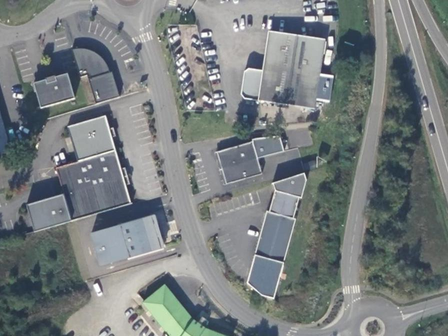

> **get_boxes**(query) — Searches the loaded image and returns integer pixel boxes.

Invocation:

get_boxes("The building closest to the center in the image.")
[216,138,284,184]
